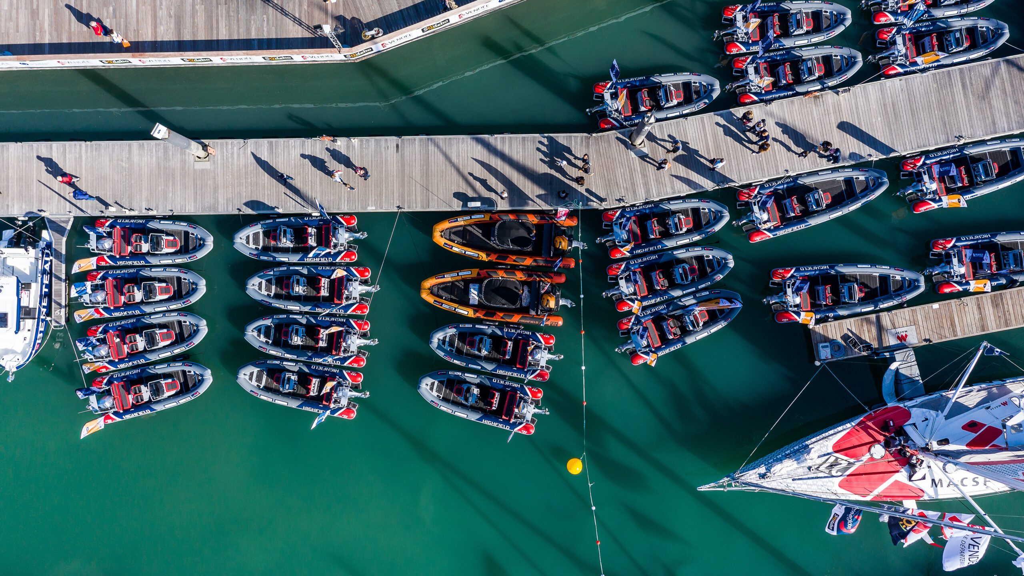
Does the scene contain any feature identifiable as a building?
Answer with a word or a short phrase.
No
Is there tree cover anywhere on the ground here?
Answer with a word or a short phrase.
No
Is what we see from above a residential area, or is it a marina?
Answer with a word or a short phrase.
marina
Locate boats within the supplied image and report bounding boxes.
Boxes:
[238,360,368,428]
[72,218,214,273]
[0,215,52,389]
[588,63,721,129]
[416,371,546,441]
[247,265,378,316]
[234,204,365,263]
[733,166,890,240]
[764,262,925,325]
[726,40,863,103]
[429,322,560,384]
[698,343,1024,576]
[80,361,215,437]
[615,293,746,366]
[869,9,1009,76]
[71,267,207,323]
[245,314,376,367]
[597,198,731,257]
[924,229,1024,293]
[715,0,851,53]
[602,248,736,314]
[80,312,209,373]
[896,139,1024,211]
[433,212,584,270]
[862,0,983,23]
[421,266,572,326]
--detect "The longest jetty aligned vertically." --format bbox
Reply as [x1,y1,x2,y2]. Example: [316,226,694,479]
[45,216,79,331]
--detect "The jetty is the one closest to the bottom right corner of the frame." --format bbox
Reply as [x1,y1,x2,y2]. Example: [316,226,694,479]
[805,286,1024,367]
